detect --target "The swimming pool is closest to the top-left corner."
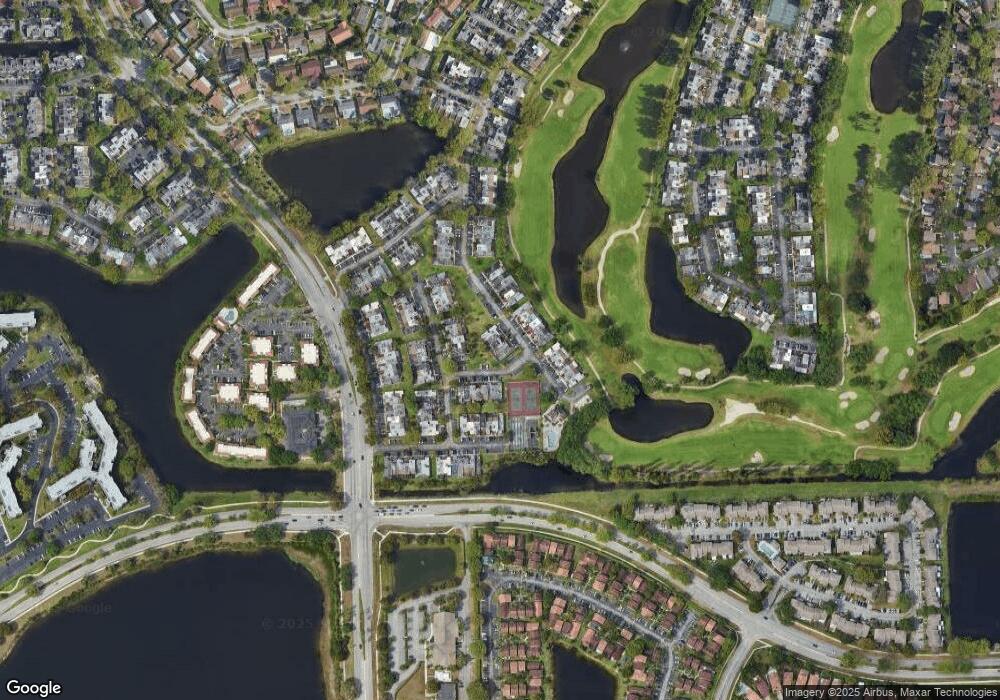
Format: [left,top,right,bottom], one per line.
[219,307,238,324]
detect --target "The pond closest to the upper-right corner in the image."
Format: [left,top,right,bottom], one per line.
[869,0,923,114]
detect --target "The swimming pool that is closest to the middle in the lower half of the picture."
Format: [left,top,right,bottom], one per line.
[543,420,562,452]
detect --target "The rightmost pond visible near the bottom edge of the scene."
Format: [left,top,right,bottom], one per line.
[550,640,617,700]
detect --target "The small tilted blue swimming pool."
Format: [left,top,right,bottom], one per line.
[757,540,780,558]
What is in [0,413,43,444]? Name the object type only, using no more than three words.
building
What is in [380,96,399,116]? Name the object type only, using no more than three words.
house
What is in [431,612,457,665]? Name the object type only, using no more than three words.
building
